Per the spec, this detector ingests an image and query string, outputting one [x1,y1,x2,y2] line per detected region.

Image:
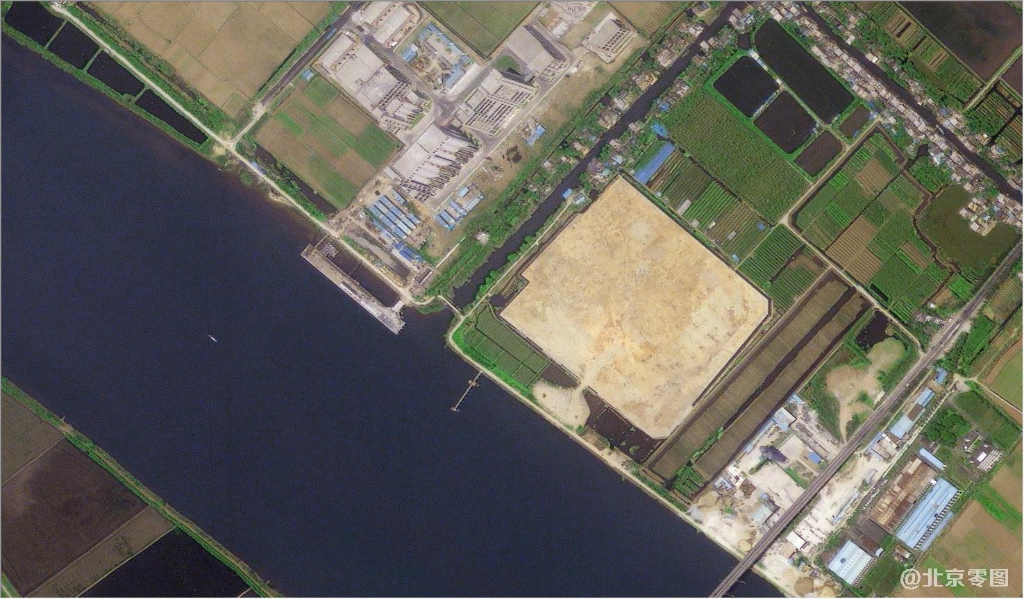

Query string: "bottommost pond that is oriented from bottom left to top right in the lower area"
[650,271,873,505]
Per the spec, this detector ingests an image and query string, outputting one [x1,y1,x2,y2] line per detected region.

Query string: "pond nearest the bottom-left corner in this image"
[81,531,251,599]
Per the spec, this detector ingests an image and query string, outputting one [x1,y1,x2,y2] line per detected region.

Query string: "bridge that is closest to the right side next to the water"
[709,434,859,599]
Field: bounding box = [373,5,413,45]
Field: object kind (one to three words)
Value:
building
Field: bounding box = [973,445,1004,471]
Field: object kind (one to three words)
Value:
house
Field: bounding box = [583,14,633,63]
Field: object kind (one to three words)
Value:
building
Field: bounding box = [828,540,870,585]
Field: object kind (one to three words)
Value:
shed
